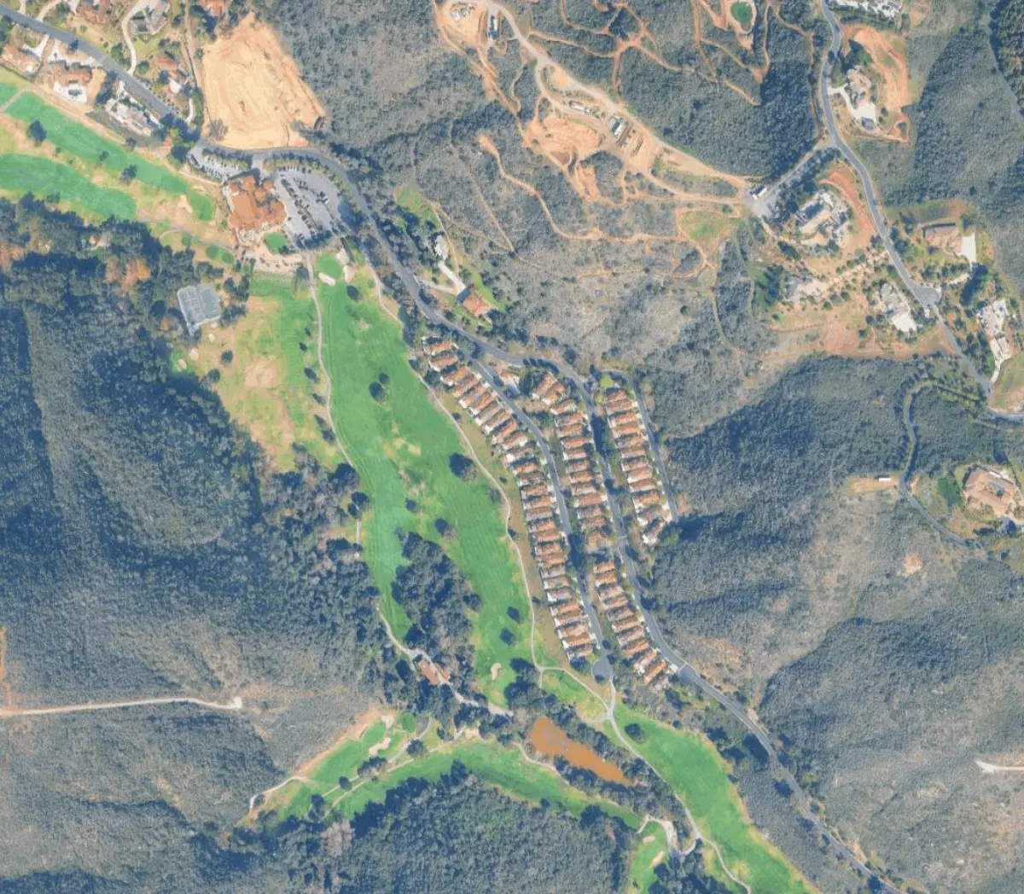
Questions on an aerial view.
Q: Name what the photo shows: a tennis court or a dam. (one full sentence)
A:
This aerial view contains a tennis court.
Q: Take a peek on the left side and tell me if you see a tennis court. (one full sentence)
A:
Yes, looking on the left side, one can make out a tennis court.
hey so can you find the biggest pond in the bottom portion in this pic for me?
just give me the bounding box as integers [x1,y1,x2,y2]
[533,717,632,787]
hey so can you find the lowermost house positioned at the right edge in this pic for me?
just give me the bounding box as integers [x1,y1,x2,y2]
[961,462,1023,517]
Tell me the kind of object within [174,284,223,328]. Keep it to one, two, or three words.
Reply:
tennis court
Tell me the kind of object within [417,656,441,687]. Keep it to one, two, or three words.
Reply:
barn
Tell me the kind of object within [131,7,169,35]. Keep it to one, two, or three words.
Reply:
house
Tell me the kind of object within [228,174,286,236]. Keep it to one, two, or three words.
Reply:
building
